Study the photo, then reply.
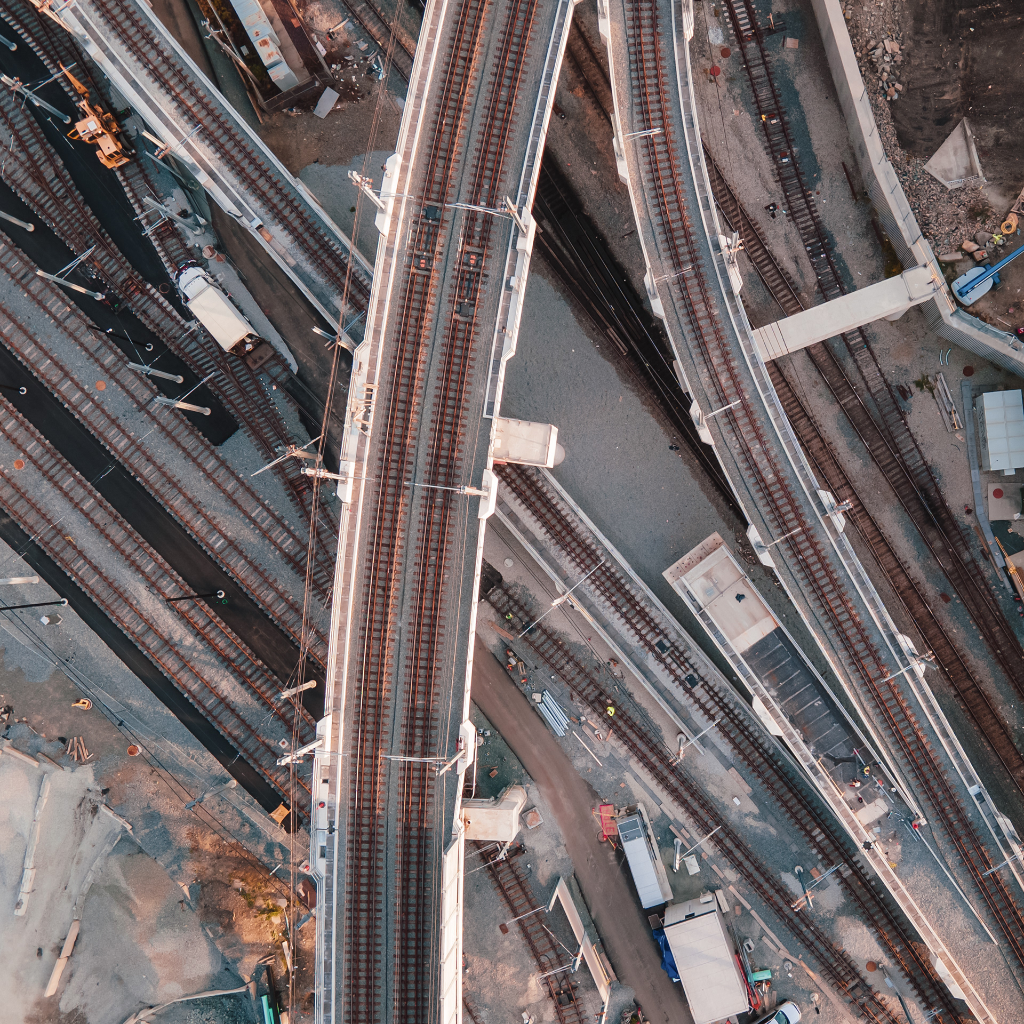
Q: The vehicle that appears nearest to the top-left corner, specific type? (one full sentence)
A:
I'd say the vehicle that appears nearest to the top-left corner is a truck.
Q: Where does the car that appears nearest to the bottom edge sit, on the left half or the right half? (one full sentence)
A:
You can find the car that appears nearest to the bottom edge on the right side of the picture.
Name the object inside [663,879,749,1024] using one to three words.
building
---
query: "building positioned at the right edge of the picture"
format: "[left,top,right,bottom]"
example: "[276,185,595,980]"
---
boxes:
[971,389,1024,476]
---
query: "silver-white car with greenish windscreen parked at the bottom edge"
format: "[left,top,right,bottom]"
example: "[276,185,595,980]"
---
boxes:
[747,1002,798,1024]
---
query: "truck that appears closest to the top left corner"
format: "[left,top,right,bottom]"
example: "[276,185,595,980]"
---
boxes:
[176,260,274,369]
